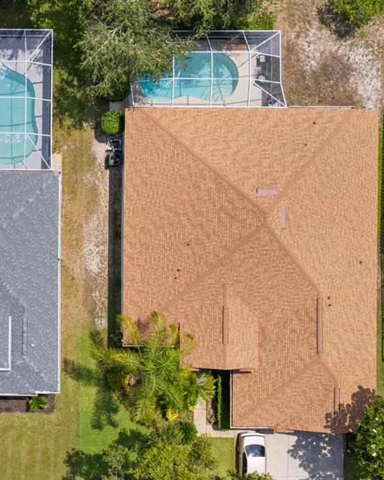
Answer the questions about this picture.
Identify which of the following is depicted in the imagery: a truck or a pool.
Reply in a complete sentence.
There is a pool in the scene.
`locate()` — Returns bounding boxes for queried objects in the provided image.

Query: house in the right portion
[121,106,381,435]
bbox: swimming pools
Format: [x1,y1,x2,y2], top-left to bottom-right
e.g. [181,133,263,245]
[0,56,41,167]
[133,45,243,105]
